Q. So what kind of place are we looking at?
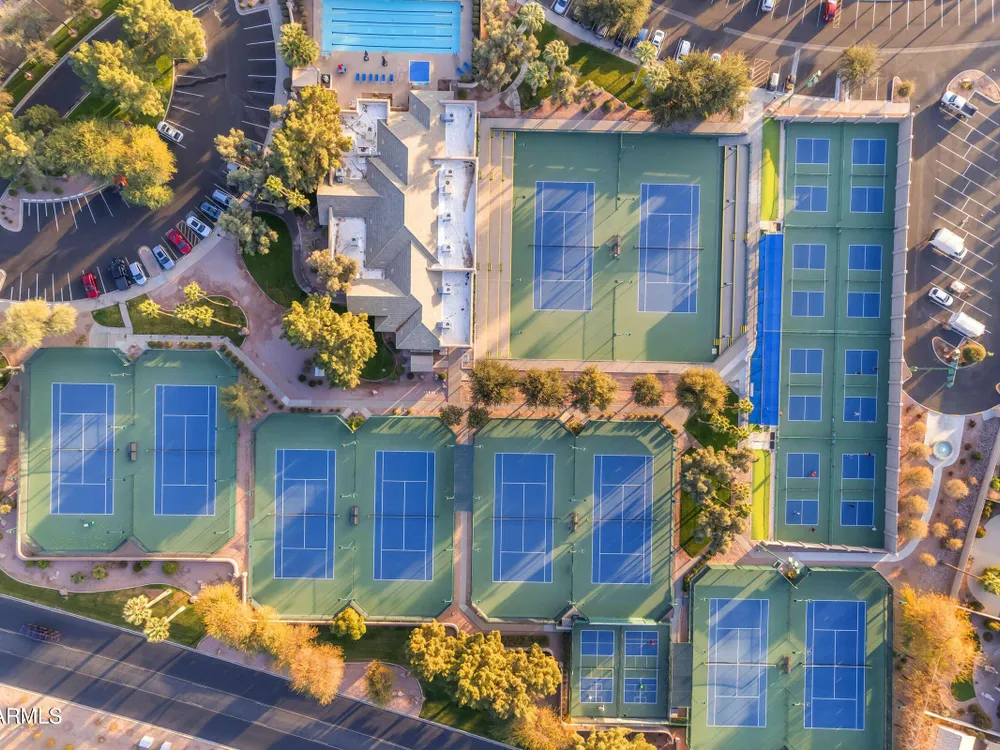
sports ground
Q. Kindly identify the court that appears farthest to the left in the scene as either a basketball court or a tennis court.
tennis court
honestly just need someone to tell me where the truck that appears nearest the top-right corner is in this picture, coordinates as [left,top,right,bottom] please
[940,93,975,116]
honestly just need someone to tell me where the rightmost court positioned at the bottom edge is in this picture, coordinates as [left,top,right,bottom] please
[789,568,886,750]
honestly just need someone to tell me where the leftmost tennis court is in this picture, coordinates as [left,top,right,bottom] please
[27,349,133,553]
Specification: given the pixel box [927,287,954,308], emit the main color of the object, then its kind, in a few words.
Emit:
white car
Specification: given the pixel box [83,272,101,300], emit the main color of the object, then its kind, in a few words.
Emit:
red car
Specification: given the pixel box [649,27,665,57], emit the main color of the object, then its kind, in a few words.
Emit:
white car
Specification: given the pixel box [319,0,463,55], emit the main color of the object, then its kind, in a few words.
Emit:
blue swimming pool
